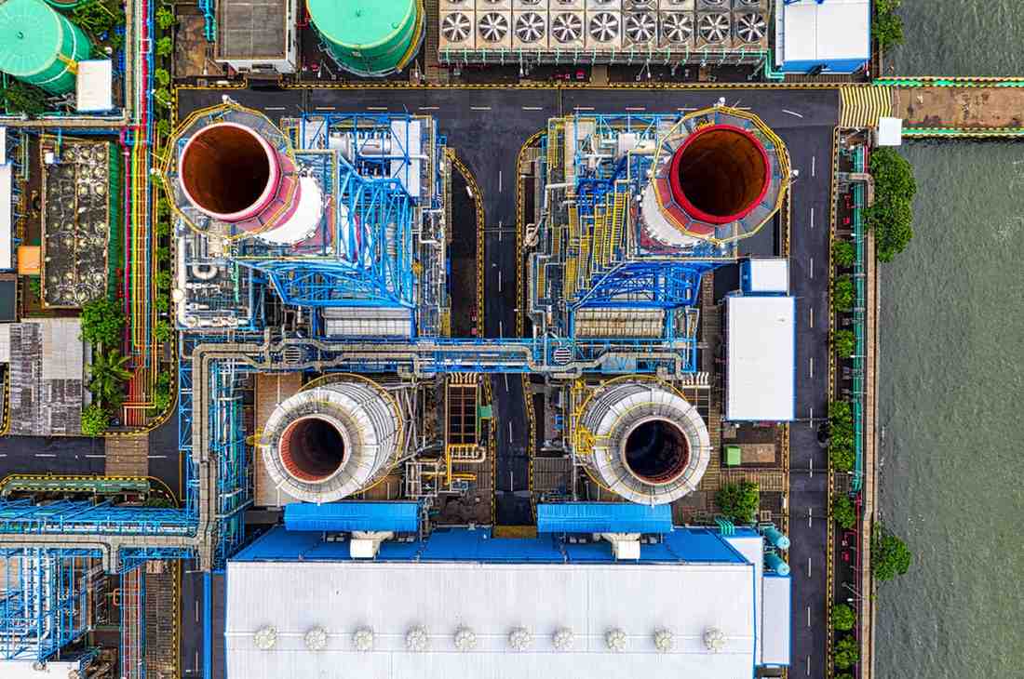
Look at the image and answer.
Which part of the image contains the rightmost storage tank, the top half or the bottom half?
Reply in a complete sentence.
The rightmost storage tank sits in the top half of the picture.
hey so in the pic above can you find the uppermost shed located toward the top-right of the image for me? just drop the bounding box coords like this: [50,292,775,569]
[766,0,869,83]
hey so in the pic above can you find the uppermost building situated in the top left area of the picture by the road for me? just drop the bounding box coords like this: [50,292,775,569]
[214,0,297,77]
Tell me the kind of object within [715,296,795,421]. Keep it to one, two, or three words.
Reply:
shed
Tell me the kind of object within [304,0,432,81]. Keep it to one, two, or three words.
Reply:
storage tank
